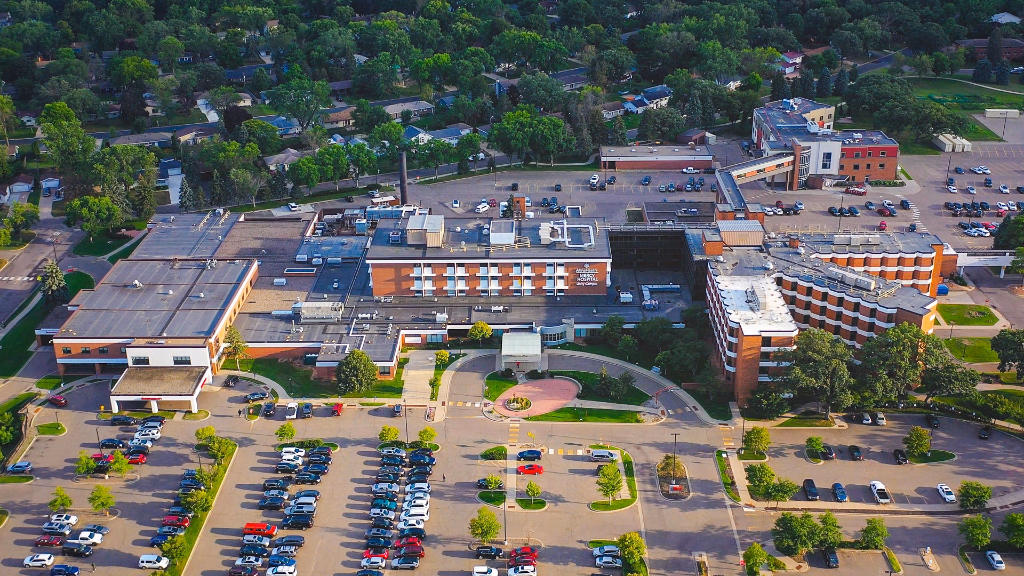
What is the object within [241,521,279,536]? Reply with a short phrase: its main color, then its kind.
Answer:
red vehicle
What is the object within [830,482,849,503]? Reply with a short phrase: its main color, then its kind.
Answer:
blue car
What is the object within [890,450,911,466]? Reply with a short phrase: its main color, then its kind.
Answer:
black car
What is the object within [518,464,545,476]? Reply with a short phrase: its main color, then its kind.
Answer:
red vehicle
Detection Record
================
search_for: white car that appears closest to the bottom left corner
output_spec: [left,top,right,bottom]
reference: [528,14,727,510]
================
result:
[21,553,54,568]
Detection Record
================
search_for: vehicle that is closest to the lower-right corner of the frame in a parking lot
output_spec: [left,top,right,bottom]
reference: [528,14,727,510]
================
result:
[982,551,1008,572]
